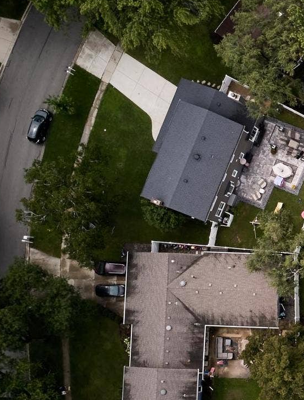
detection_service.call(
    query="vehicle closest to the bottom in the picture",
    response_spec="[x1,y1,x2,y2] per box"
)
[92,281,128,299]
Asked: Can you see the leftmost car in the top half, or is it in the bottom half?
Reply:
top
